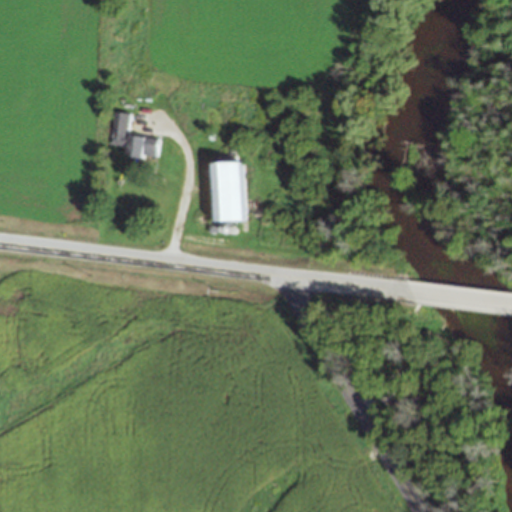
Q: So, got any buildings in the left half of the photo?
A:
Yes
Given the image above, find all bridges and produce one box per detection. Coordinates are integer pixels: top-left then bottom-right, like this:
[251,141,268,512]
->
[408,280,512,314]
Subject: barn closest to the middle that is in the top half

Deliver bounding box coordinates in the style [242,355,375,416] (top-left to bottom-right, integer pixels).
[210,162,250,223]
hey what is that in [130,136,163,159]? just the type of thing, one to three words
house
